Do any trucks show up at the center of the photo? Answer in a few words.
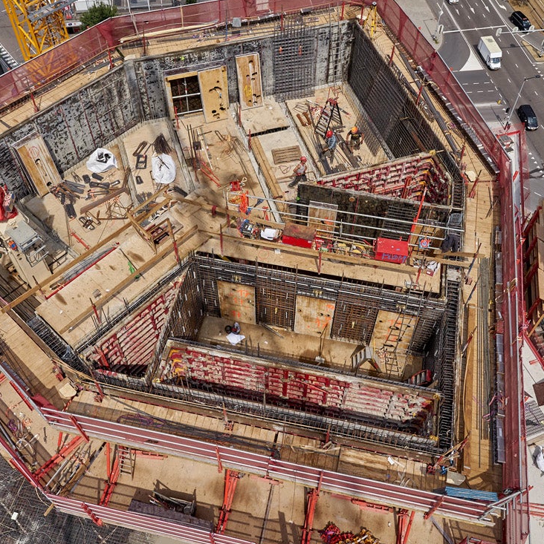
No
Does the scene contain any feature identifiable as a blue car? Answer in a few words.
No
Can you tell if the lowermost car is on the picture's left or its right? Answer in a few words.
right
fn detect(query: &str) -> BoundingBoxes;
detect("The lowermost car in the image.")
[517,103,539,129]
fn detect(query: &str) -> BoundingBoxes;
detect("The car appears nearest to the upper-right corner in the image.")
[512,8,530,29]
